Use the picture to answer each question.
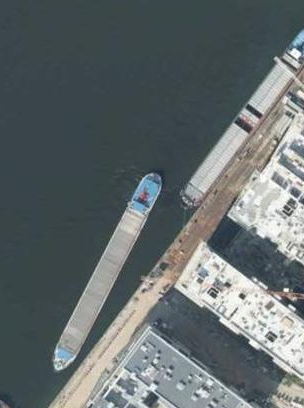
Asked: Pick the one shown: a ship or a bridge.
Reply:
ship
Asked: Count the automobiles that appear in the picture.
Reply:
none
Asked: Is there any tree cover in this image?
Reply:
No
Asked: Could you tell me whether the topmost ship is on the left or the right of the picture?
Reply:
right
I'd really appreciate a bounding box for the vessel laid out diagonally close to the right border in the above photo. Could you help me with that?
[188,29,304,205]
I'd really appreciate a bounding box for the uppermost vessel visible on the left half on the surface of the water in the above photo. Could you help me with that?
[56,171,159,371]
